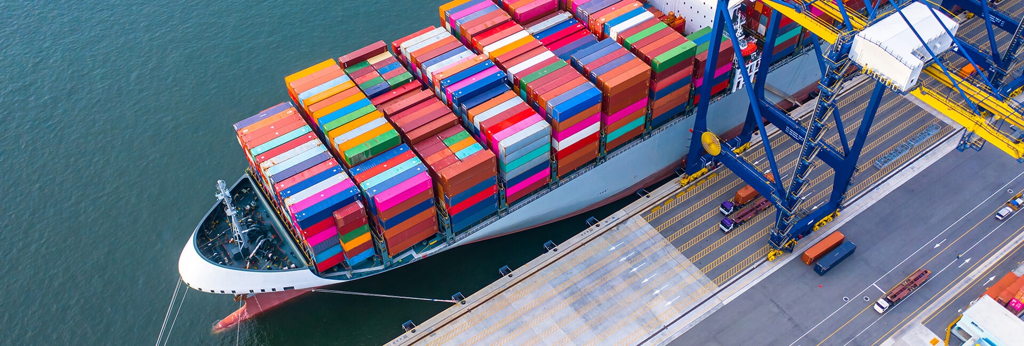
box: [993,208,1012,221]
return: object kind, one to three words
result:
vehicle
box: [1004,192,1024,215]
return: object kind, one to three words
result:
work vehicle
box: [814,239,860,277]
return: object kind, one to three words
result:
shipping container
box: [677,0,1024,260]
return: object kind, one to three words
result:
container crane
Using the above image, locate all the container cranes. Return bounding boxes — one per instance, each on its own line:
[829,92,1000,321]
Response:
[677,0,1024,260]
[914,0,1024,114]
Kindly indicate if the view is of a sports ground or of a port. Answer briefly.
port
